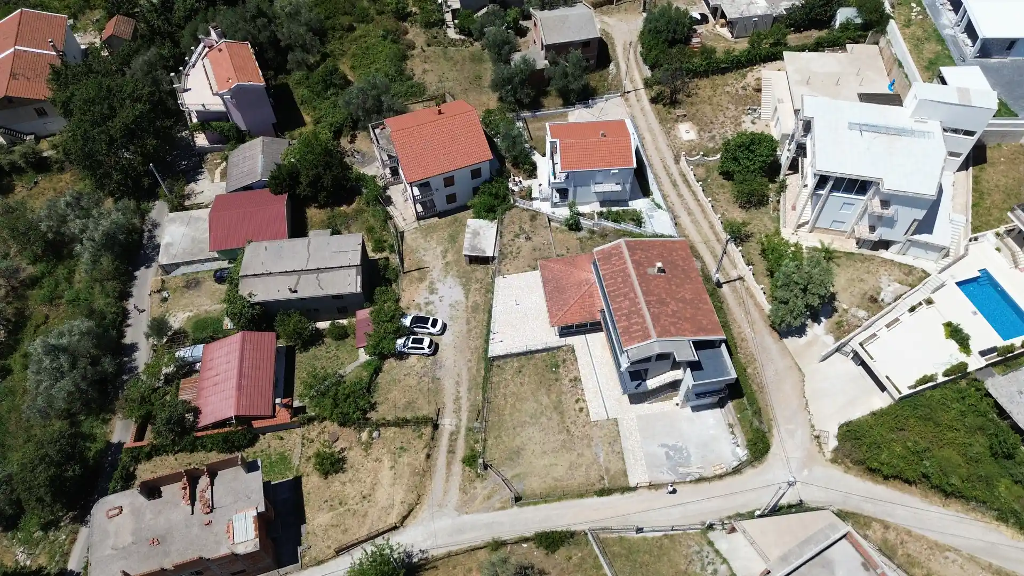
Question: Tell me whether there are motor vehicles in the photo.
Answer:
Yes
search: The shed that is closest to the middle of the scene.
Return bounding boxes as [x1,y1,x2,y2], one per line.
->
[463,219,500,265]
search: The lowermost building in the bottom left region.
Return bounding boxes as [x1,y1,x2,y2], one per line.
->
[88,453,283,576]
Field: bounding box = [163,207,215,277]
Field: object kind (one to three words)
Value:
building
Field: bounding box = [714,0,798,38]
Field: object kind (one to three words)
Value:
house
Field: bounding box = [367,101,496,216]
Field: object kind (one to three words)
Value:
house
